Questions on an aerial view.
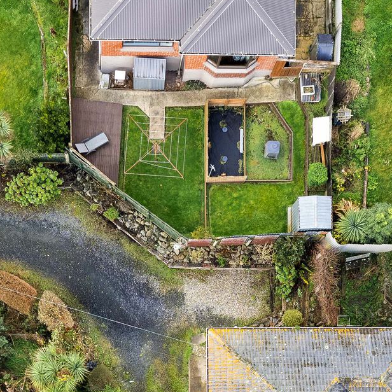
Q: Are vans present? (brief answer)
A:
No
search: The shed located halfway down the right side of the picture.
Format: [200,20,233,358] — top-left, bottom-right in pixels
[287,196,332,239]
